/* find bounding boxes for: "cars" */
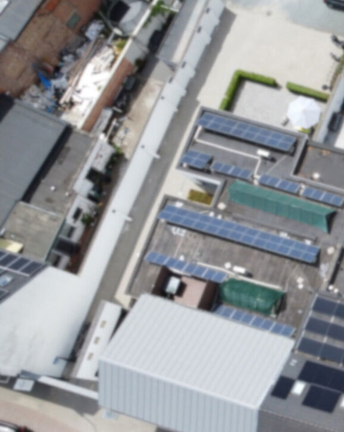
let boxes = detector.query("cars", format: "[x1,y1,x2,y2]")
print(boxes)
[321,0,344,10]
[0,420,30,432]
